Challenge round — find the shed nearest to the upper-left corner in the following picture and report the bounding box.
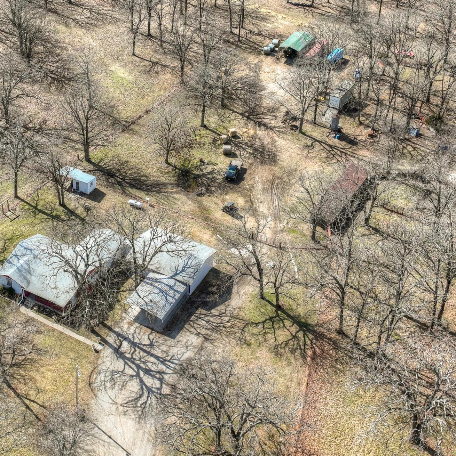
[57,166,97,195]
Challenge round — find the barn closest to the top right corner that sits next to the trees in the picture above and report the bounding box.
[280,26,317,57]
